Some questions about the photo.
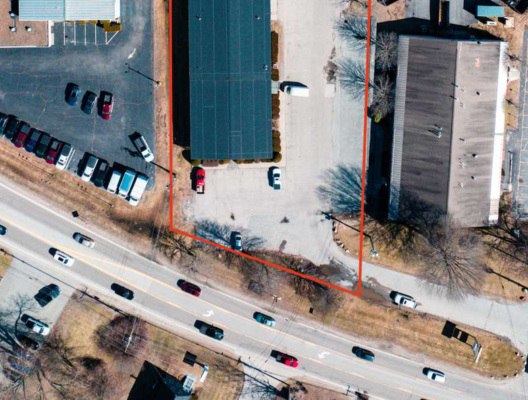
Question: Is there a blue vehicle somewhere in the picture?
Yes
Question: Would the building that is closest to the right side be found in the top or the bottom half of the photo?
top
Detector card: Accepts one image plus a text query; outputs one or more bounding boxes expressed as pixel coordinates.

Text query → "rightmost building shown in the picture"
[389,36,513,226]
